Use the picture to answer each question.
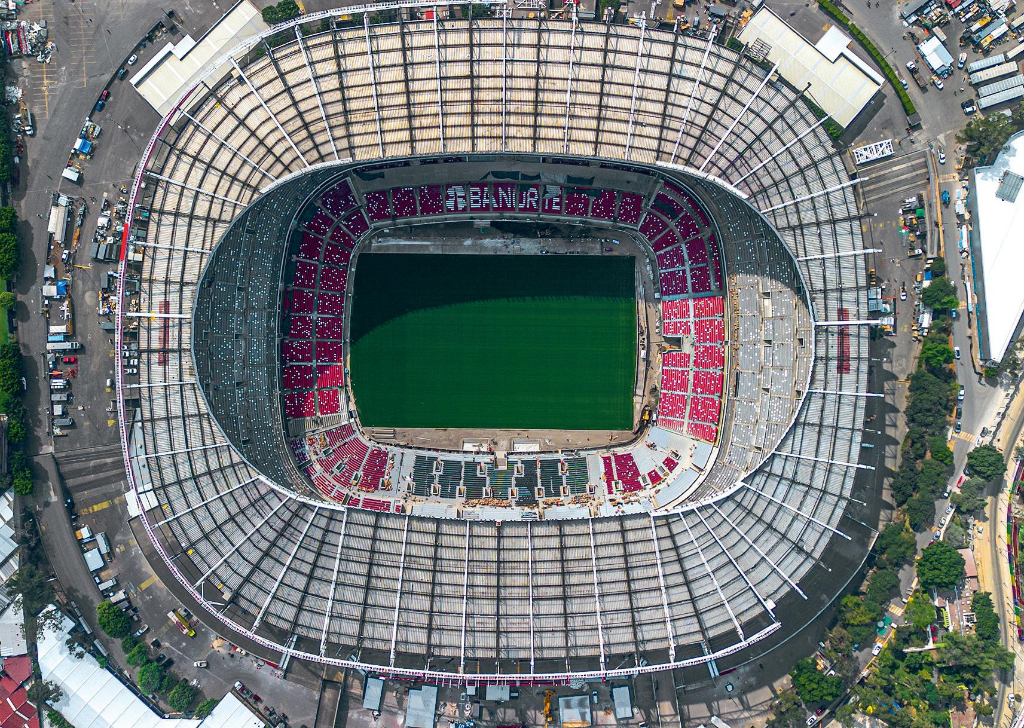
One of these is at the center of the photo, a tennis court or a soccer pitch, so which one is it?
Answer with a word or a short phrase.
soccer pitch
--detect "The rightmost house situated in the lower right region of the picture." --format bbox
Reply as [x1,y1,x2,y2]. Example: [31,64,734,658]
[955,545,979,578]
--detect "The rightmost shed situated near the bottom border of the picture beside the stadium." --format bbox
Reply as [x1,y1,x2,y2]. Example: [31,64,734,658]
[612,682,633,719]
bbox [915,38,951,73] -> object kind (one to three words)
shed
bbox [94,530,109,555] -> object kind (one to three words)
vehicle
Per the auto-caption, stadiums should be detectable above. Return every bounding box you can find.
[113,0,894,682]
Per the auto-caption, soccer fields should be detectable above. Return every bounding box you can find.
[349,253,636,430]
